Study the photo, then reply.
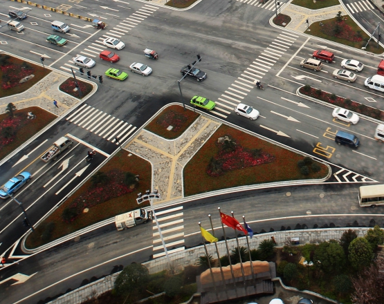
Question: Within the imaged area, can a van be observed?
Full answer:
Yes, a van appears in the view.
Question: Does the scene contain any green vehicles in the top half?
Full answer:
Yes, a green vehicle is visible in the top half.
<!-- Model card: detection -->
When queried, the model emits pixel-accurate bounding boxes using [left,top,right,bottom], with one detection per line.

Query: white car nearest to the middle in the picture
[233,102,261,122]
